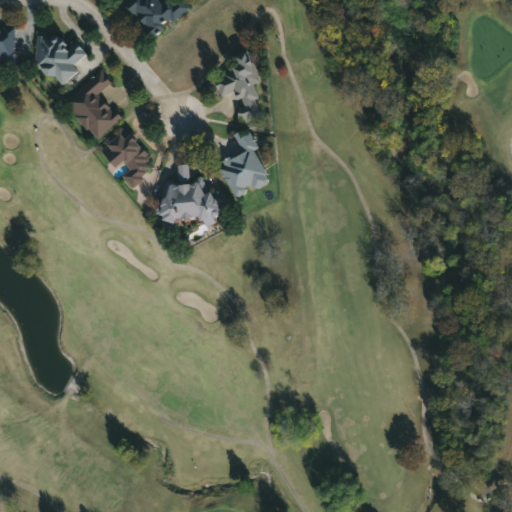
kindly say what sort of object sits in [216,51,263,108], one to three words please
house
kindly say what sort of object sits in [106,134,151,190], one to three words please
house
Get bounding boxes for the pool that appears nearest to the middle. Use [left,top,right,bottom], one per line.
[189,224,209,242]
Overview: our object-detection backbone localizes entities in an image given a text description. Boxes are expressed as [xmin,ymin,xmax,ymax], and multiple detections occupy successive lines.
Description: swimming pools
[114,166,128,179]
[189,224,209,242]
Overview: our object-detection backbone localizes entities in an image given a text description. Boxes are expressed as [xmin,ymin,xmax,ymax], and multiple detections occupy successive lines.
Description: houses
[216,51,263,108]
[35,34,87,84]
[71,68,123,140]
[0,26,16,58]
[106,134,151,190]
[127,0,192,37]
[156,164,219,228]
[220,128,268,198]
